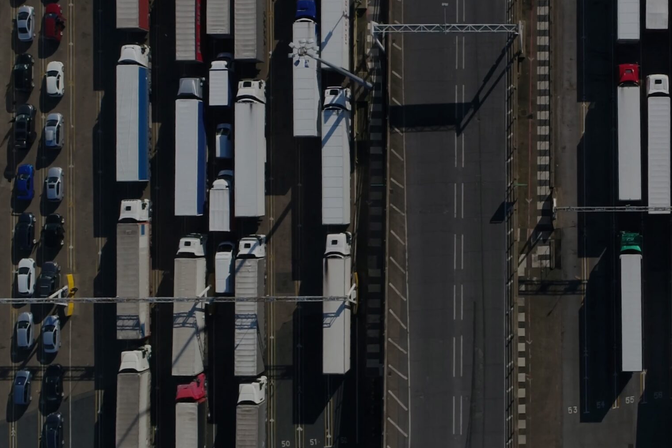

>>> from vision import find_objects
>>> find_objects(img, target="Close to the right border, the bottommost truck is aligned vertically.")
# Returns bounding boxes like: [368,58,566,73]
[617,227,643,372]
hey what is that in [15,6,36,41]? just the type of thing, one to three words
car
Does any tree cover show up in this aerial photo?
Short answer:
No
